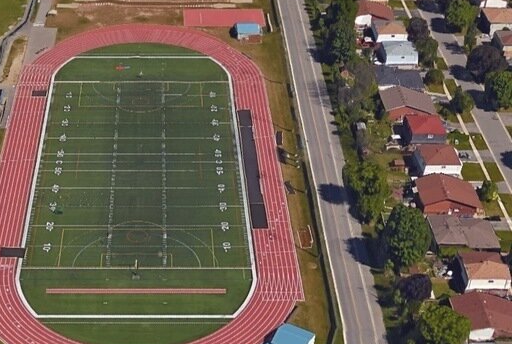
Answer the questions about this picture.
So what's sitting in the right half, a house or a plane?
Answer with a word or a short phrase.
house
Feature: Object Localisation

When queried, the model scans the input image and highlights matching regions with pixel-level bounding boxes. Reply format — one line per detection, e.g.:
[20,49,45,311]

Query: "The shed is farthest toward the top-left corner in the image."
[236,20,261,41]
